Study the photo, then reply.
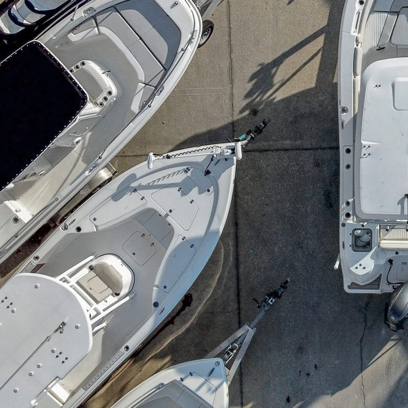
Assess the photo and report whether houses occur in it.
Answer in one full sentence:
No, I find no house anywhere in the image.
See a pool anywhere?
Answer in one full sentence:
No, this view has no pool in it.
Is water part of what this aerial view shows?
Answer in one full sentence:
No, there's no water in this view.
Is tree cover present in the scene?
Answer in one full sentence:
No, the picture contains no tree cover.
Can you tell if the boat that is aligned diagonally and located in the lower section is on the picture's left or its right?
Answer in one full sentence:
The boat that is aligned diagonally and located in the lower section sits on the left side.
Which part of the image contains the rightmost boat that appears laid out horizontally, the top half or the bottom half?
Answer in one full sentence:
The rightmost boat that appears laid out horizontally is in the bottom half of the image.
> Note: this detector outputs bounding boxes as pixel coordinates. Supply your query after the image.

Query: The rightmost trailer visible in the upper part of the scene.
[232,110,283,170]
